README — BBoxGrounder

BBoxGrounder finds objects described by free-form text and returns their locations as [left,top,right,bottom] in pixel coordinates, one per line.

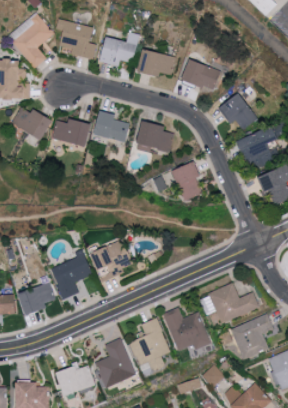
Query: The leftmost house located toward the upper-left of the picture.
[0,60,30,100]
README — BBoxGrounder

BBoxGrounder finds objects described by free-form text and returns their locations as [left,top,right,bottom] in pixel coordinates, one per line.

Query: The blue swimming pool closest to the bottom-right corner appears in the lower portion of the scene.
[134,240,160,254]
